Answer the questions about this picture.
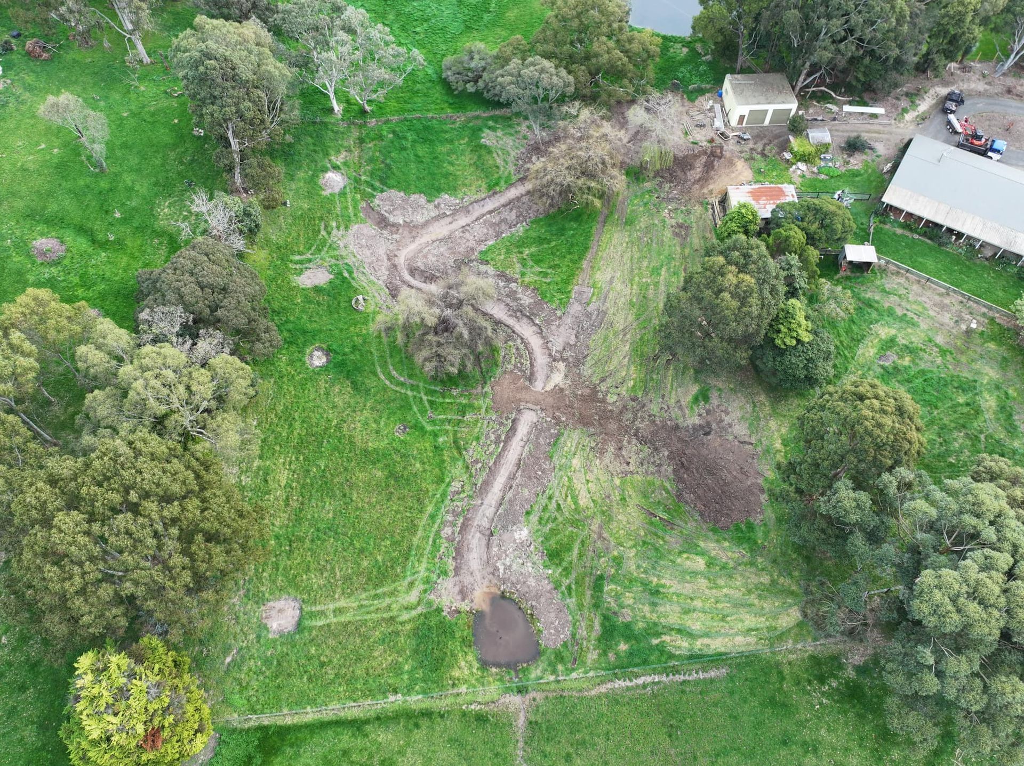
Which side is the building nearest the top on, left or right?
right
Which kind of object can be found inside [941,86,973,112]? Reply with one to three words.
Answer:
truck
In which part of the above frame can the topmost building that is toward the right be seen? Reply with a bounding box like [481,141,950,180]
[723,72,799,129]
